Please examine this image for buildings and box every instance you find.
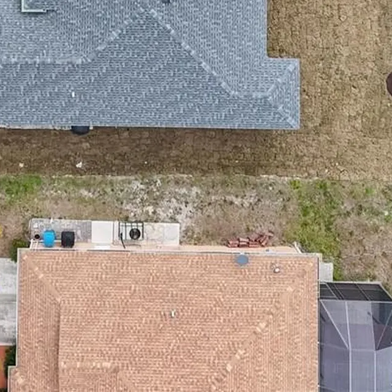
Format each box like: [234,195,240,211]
[0,0,301,130]
[6,238,323,392]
